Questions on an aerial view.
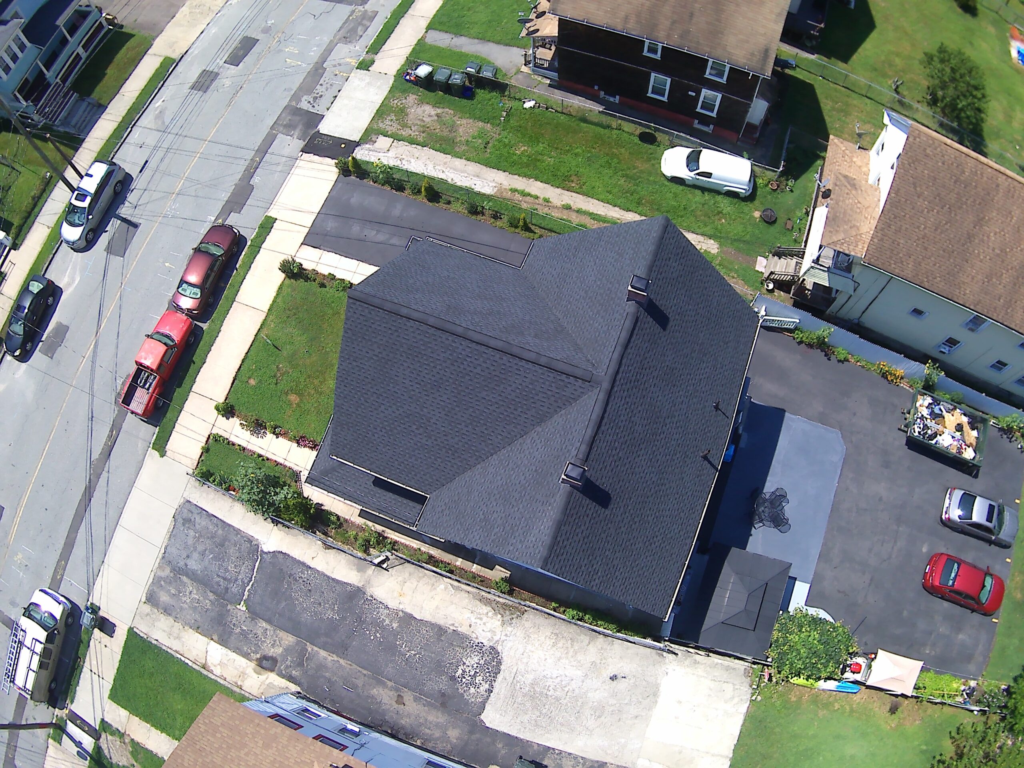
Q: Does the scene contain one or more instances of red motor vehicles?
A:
Yes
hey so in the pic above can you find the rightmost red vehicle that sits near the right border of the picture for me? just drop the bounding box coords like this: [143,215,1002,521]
[920,551,1006,614]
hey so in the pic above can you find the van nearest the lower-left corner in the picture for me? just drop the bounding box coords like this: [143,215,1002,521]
[0,592,77,707]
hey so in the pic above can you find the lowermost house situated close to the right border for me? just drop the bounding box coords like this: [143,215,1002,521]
[768,120,1024,388]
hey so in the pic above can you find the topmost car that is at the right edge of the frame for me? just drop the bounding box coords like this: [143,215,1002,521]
[938,493,1019,546]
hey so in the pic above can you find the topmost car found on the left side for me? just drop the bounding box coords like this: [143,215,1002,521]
[56,156,128,250]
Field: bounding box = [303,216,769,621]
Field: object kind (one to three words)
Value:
house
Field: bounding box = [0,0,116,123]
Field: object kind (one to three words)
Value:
house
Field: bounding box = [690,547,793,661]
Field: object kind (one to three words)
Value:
gazebo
